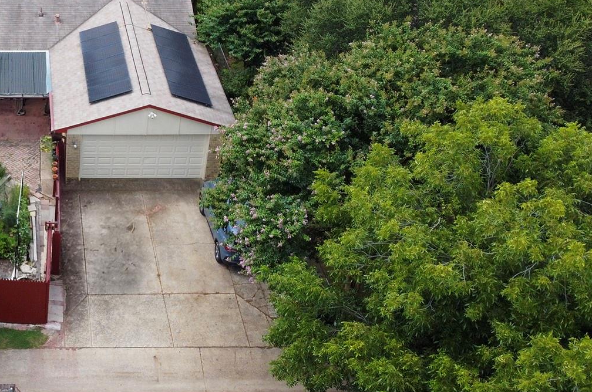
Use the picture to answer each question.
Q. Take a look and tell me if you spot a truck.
No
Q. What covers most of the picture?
trees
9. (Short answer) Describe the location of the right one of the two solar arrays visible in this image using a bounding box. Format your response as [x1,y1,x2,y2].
[150,23,212,108]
